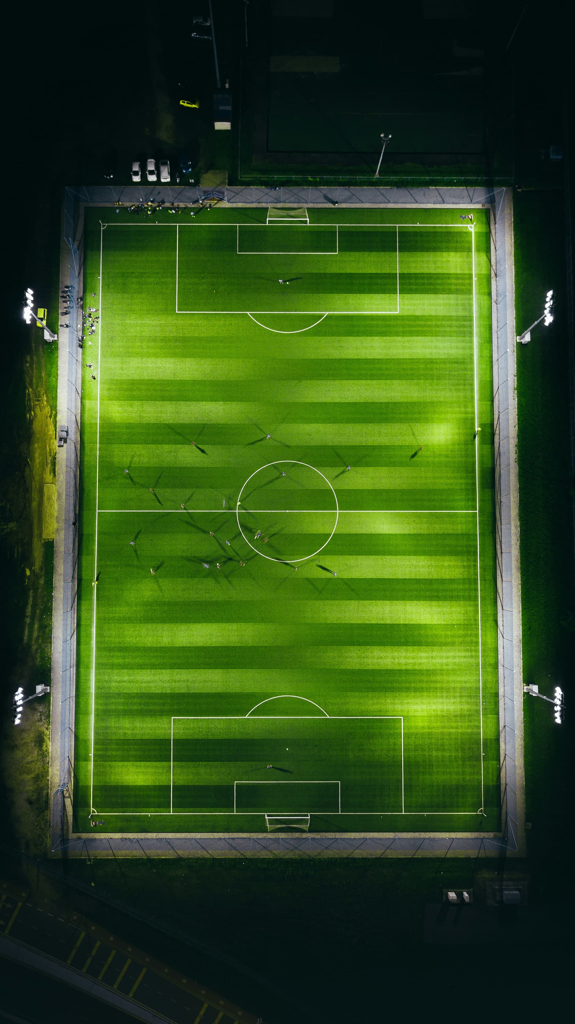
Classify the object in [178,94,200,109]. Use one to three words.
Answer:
car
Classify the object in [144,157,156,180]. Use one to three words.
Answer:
vehicle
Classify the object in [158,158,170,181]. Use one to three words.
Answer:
vehicle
